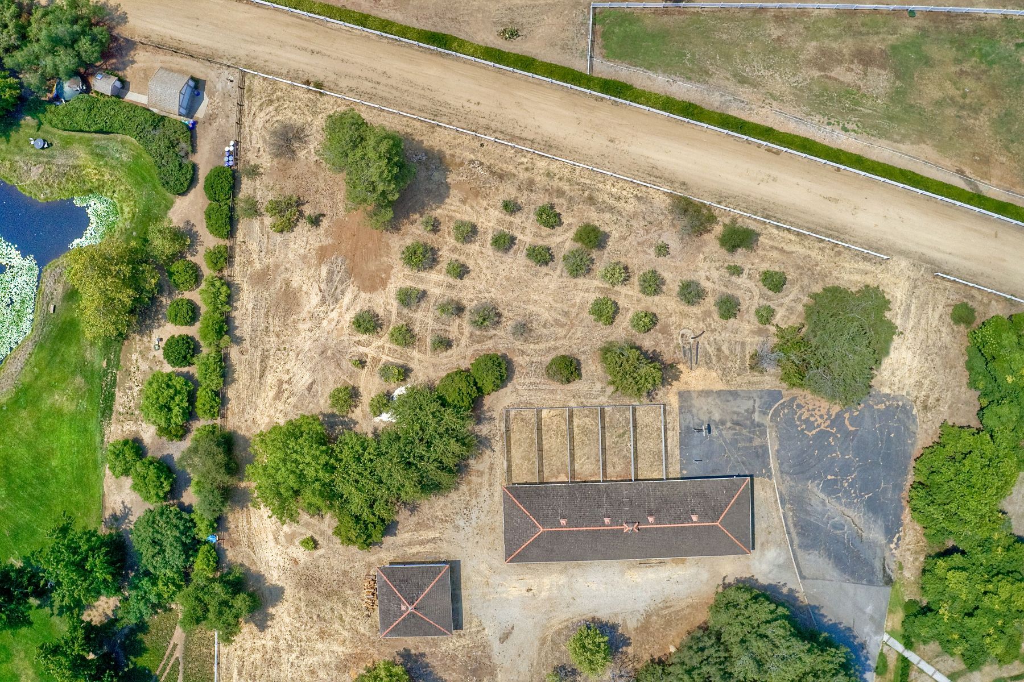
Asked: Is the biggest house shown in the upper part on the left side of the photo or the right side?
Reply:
left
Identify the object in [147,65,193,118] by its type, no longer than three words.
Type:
house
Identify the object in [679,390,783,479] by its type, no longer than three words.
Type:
sports court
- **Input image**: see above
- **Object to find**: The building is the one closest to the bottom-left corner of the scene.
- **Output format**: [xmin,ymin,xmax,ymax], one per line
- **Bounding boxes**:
[376,562,453,638]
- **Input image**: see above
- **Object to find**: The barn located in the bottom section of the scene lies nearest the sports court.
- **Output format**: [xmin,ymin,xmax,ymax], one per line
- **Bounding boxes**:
[502,476,753,564]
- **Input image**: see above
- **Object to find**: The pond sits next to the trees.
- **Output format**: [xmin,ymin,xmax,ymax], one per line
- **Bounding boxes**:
[0,181,115,366]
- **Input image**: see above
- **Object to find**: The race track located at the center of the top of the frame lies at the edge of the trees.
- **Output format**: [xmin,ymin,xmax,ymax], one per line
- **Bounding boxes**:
[36,0,1024,303]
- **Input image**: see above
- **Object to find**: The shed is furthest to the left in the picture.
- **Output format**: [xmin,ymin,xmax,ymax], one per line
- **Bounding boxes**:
[91,73,121,97]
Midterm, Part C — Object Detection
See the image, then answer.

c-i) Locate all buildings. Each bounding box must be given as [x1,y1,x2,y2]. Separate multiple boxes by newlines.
[147,65,193,118]
[91,73,121,97]
[502,476,753,564]
[376,562,453,638]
